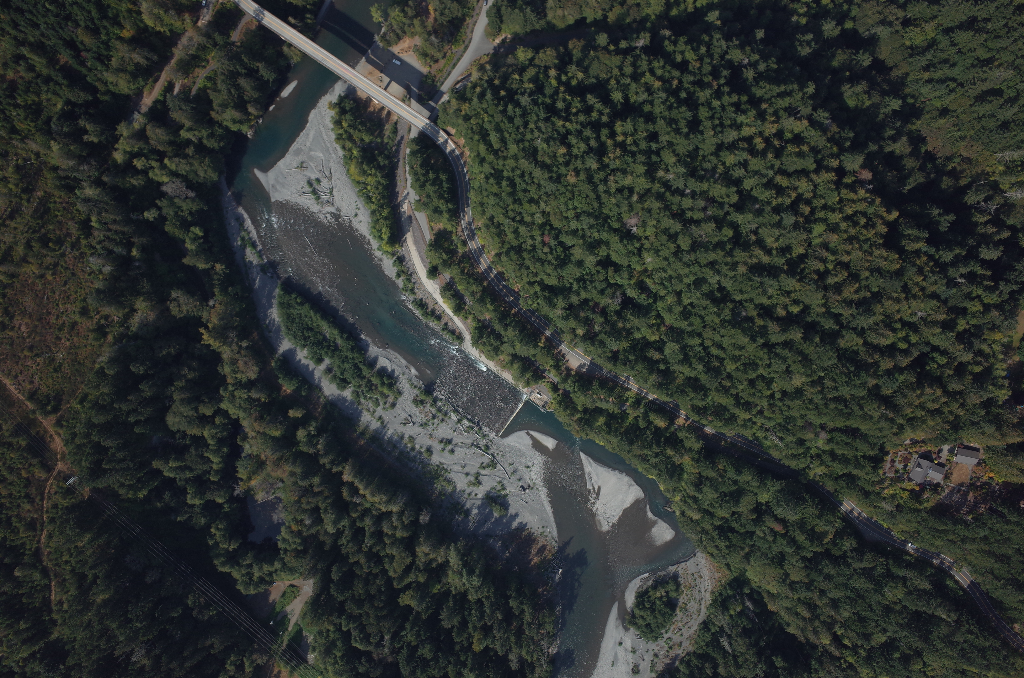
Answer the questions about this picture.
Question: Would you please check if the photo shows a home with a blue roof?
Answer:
No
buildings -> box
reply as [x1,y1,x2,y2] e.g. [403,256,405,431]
[954,448,980,465]
[908,458,945,483]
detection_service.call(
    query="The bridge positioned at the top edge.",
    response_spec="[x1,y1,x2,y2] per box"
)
[225,0,428,131]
